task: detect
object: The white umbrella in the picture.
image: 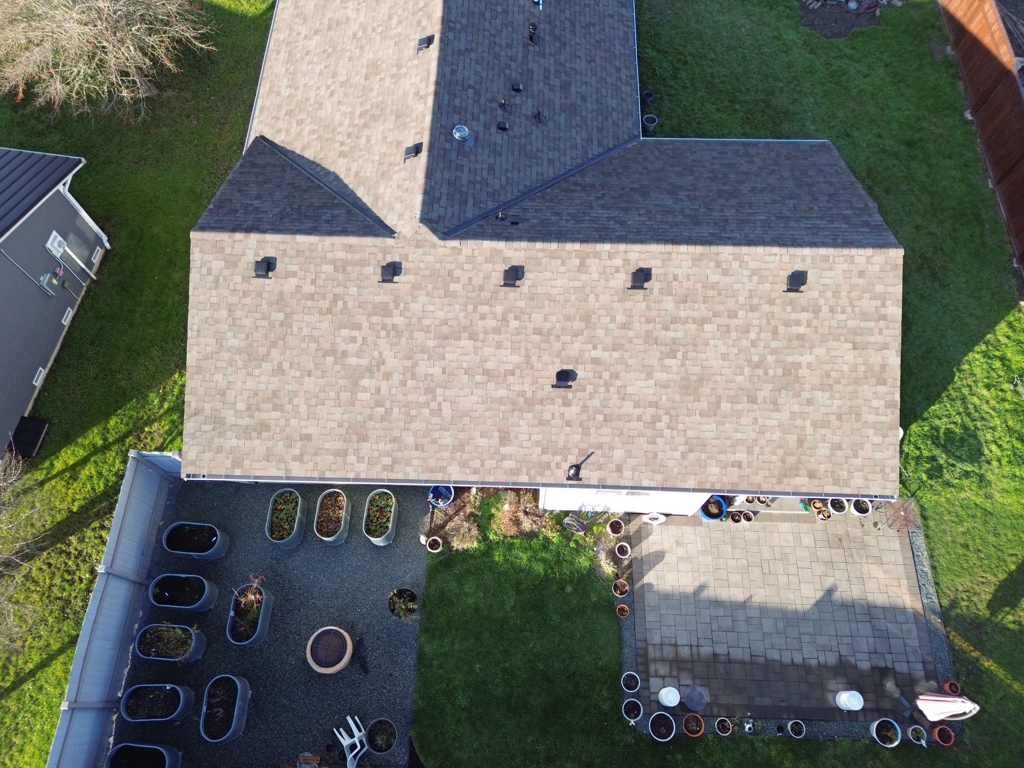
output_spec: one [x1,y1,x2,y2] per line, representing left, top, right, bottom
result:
[892,688,983,726]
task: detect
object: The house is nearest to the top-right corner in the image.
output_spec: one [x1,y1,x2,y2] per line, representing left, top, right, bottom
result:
[182,0,909,516]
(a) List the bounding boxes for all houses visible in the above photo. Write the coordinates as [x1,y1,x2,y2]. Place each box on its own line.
[182,0,909,516]
[0,138,121,454]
